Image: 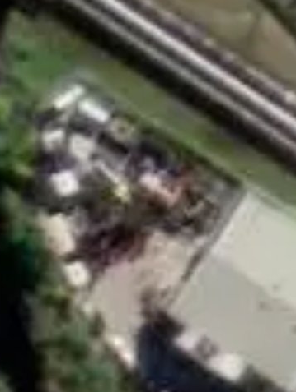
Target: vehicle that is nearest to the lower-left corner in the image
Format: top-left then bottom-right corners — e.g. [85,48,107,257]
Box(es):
[64,261,90,286]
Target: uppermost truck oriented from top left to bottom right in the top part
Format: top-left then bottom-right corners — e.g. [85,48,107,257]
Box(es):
[75,95,113,127]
